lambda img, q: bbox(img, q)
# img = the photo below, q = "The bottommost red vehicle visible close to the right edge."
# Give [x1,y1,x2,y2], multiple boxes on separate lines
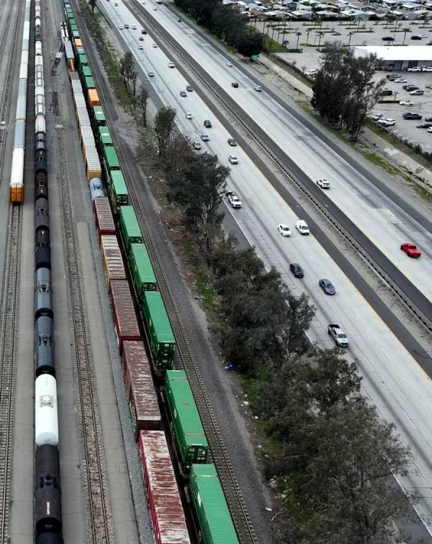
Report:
[400,242,423,258]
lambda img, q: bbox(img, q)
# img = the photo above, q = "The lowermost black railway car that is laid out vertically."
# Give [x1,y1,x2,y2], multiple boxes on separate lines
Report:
[35,448,62,544]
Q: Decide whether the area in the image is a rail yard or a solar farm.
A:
rail yard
